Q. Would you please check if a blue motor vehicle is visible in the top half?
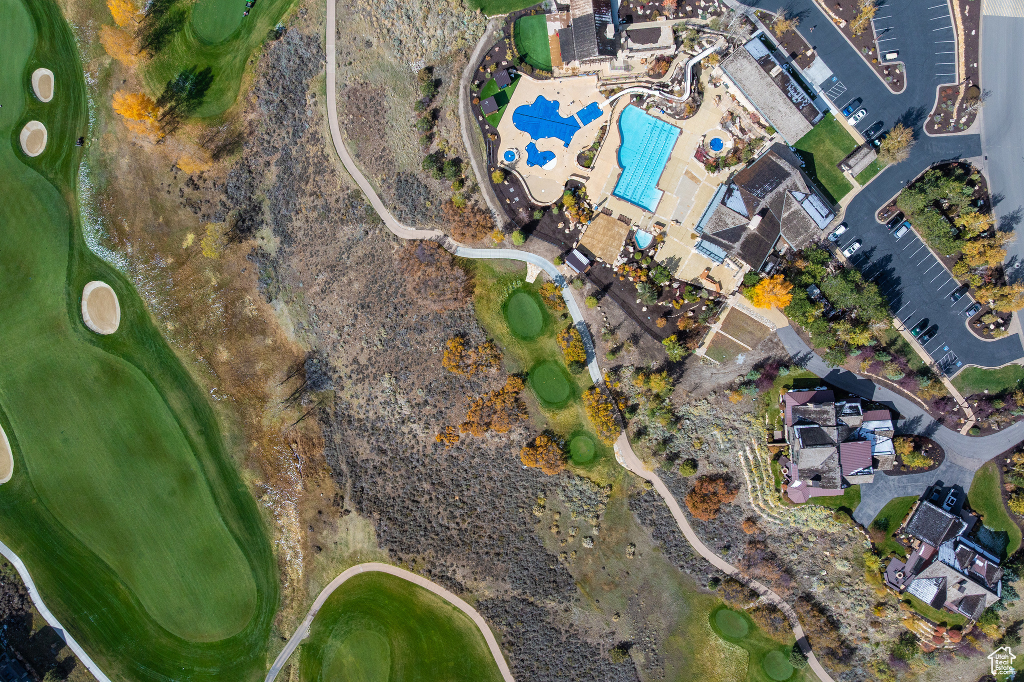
Yes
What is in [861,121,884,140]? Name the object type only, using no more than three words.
vehicle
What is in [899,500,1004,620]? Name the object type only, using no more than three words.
house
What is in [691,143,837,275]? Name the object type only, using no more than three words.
building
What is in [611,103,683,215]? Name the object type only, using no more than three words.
swimming pool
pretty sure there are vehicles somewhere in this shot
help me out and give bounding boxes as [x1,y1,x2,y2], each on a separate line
[861,121,884,140]
[841,96,864,116]
[885,215,903,230]
[842,241,861,258]
[944,490,959,510]
[965,302,981,317]
[917,328,937,345]
[881,51,899,61]
[893,221,911,239]
[948,286,968,303]
[909,321,928,337]
[927,482,945,504]
[827,224,847,242]
[869,132,884,149]
[847,107,867,124]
